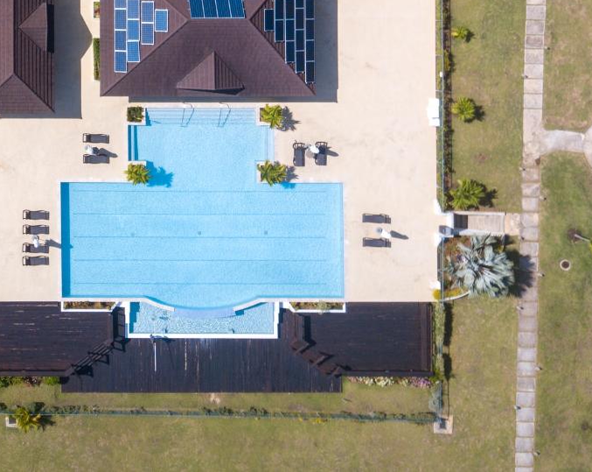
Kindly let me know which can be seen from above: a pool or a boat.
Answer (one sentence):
The one in the frame is a pool.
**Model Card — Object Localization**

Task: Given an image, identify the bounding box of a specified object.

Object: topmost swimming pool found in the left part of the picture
[58,106,345,316]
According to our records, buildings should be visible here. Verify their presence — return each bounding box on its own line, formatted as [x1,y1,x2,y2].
[0,0,55,114]
[100,0,316,96]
